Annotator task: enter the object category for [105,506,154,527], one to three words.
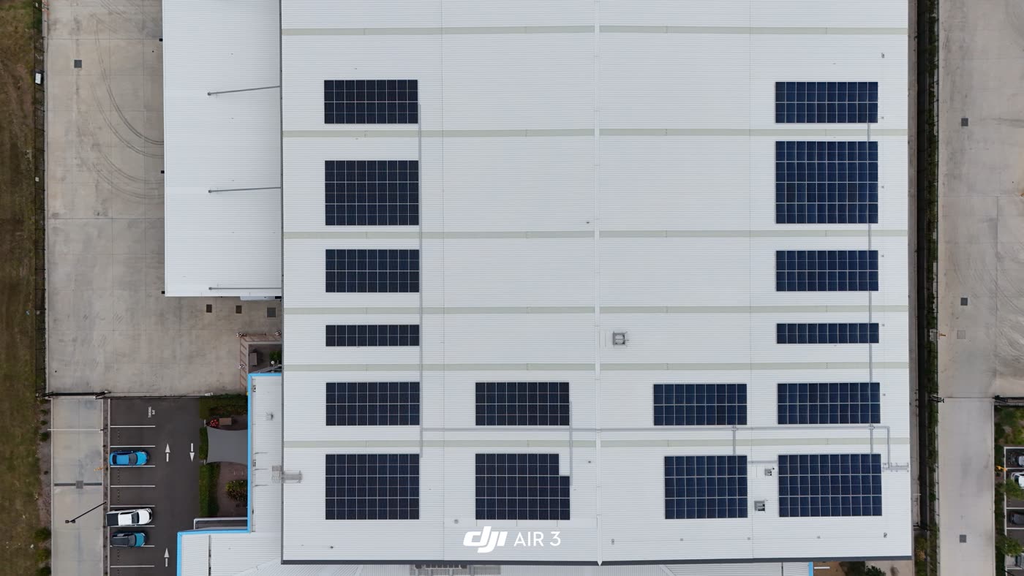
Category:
truck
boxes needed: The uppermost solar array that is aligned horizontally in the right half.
[775,82,878,123]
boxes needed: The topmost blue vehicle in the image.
[110,450,149,468]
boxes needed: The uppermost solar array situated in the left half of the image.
[324,78,419,124]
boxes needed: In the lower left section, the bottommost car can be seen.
[109,531,146,551]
